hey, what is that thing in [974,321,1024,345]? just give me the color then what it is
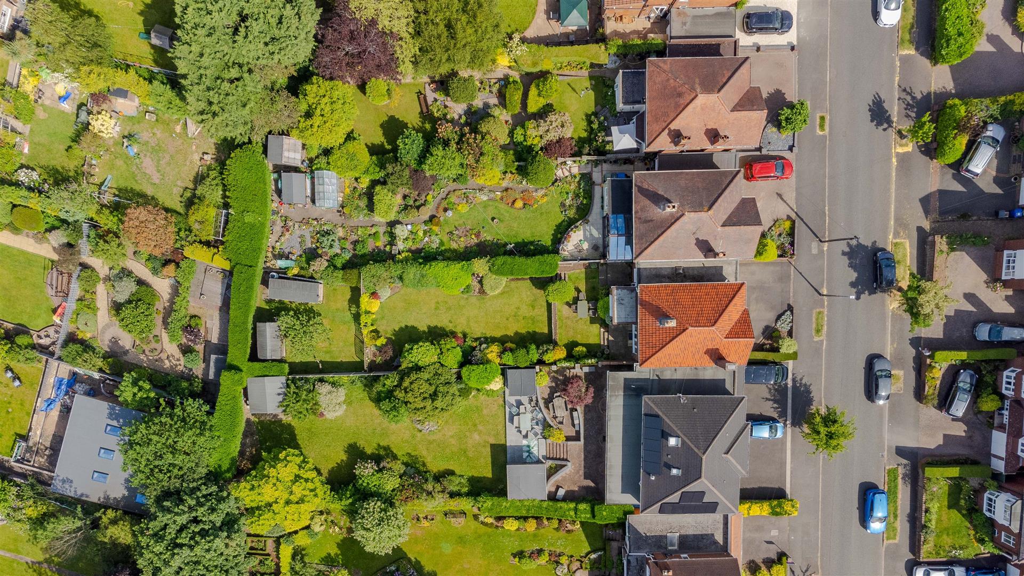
blue car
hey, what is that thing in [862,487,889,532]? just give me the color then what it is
blue car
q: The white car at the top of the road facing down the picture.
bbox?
[874,0,902,29]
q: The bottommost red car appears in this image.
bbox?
[743,158,790,182]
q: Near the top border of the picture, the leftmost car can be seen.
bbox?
[743,9,792,36]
